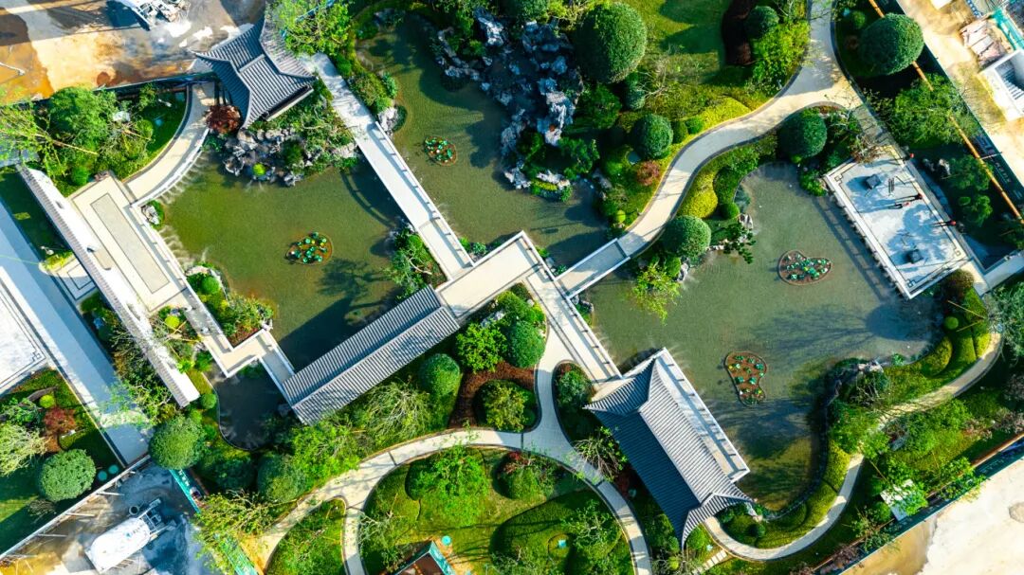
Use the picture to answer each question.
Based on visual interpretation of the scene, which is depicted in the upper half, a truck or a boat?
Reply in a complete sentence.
There is a truck in the upper half.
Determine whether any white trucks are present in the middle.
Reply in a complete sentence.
No, in the middle there is no white truck.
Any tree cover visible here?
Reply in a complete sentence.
Yes, there is tree cover in the image.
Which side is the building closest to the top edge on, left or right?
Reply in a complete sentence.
The building closest to the top edge appears in the left half of the scene.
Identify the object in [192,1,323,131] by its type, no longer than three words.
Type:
building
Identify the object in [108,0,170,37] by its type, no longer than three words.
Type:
truck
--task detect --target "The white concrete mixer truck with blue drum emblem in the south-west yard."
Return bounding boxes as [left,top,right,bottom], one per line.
[57,506,186,575]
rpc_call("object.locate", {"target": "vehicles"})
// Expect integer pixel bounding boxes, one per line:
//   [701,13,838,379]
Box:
[108,0,170,37]
[57,506,186,575]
